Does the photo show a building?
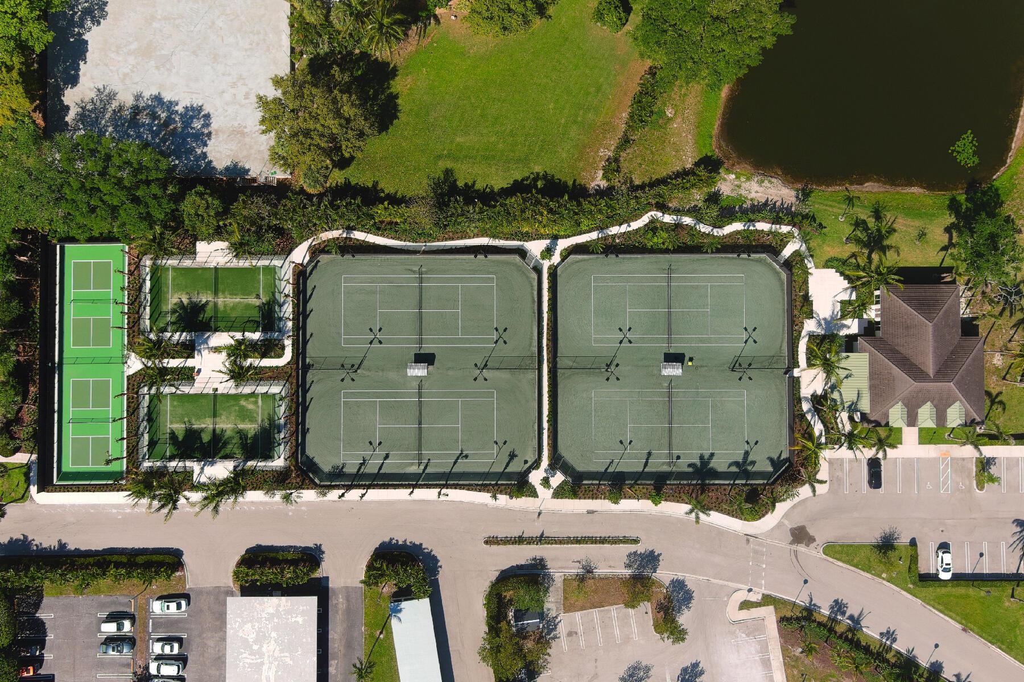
Yes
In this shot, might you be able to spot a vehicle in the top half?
No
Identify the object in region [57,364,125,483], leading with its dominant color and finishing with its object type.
green sports court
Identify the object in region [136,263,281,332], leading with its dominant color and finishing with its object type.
green sports court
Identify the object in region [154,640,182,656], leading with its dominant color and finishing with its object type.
white car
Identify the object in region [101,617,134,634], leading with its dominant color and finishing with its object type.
white car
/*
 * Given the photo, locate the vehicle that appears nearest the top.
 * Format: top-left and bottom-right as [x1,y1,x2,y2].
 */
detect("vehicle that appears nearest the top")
[865,457,883,489]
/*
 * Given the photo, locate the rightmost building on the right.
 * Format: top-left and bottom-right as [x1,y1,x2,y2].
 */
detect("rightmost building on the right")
[829,284,986,428]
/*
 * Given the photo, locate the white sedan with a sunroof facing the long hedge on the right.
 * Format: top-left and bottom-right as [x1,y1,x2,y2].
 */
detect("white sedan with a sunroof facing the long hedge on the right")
[935,545,953,579]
